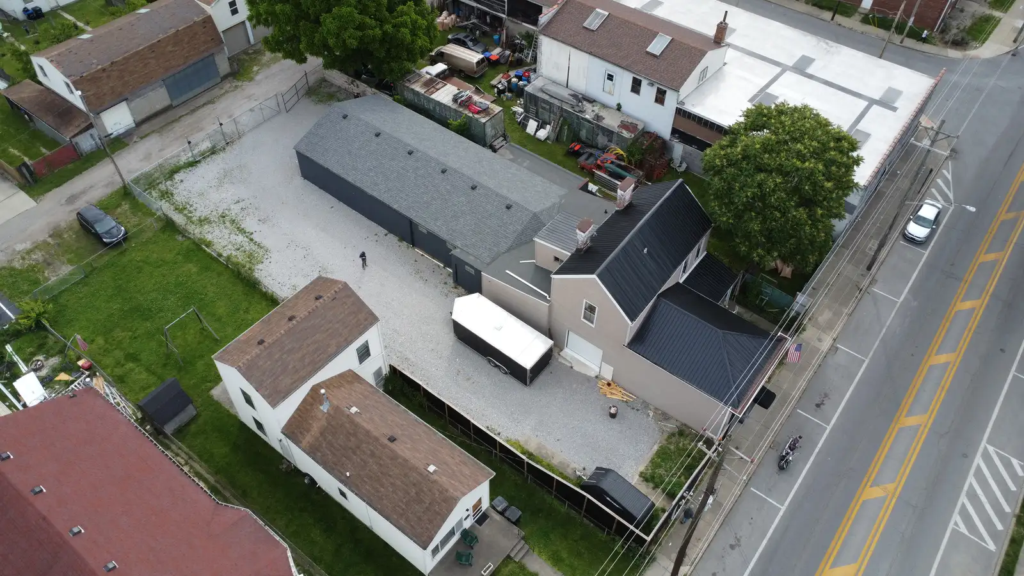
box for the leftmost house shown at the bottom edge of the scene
[0,384,301,576]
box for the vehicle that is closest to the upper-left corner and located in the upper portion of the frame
[66,196,124,243]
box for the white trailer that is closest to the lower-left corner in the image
[445,295,553,386]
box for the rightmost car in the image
[905,197,947,243]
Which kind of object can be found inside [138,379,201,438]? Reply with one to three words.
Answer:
shed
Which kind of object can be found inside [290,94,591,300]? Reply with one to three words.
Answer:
building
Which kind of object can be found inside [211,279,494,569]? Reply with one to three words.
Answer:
house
